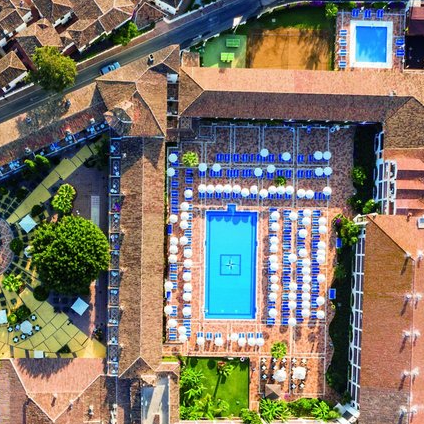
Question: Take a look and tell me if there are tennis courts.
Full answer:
Yes, the photo shows a tennis court.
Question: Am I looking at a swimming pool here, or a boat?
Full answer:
This aerial view contains a swimming pool.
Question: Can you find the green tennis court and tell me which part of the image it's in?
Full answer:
Look in the top portion of the view to spot the green tennis court.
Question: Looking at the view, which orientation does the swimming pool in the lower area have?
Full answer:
Seen from above, the swimming pool in the lower area lies from top to bottom.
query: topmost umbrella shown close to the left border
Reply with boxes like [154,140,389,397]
[20,216,35,231]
